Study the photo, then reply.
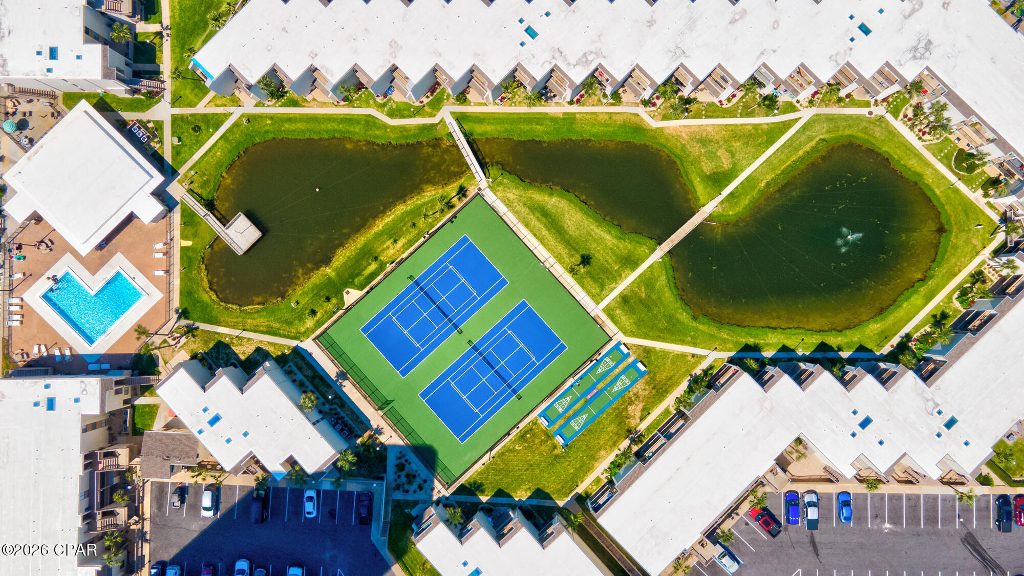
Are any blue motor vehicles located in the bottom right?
Yes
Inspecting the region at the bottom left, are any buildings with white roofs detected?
Yes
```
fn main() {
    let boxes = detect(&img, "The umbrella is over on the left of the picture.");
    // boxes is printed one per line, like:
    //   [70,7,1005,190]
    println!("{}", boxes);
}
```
[2,118,20,134]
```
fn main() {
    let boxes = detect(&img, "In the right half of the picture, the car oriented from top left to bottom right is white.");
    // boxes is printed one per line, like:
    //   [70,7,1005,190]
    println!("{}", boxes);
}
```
[716,545,739,572]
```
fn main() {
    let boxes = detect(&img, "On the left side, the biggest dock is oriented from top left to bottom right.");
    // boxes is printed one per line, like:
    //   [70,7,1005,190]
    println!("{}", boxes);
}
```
[178,191,263,255]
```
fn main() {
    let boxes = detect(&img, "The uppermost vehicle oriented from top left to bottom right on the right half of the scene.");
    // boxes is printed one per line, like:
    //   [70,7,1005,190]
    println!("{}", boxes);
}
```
[752,507,784,538]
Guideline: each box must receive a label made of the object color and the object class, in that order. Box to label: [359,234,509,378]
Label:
blue tennis court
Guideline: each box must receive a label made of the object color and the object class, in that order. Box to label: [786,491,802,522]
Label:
blue car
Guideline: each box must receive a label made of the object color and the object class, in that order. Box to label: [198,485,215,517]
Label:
white car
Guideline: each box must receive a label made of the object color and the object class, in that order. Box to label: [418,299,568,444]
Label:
blue tennis court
